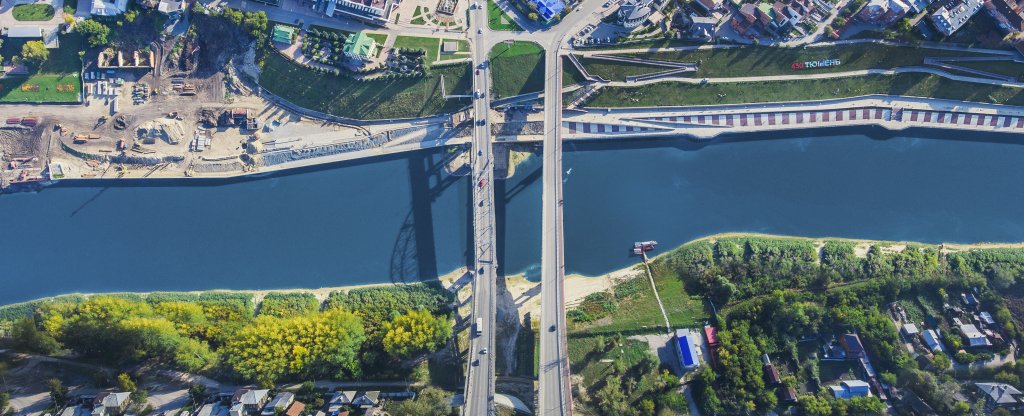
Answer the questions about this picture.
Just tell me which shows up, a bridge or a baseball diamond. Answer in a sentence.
It is a bridge that can be seen here.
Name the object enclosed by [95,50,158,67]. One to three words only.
building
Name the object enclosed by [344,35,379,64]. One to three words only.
house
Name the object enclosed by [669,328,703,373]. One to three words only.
building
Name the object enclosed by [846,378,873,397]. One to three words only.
house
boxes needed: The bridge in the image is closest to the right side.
[538,46,572,416]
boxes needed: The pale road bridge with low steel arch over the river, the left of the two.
[463,36,497,416]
